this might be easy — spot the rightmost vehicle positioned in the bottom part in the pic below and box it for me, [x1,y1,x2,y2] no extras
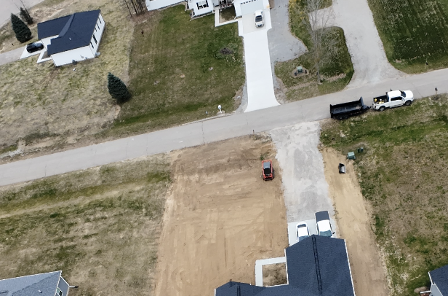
[315,209,335,237]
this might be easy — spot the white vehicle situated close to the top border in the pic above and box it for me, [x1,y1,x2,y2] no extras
[251,7,265,26]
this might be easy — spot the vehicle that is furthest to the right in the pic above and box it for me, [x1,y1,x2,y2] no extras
[370,89,415,112]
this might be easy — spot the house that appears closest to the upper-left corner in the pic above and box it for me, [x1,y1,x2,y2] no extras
[37,11,104,68]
